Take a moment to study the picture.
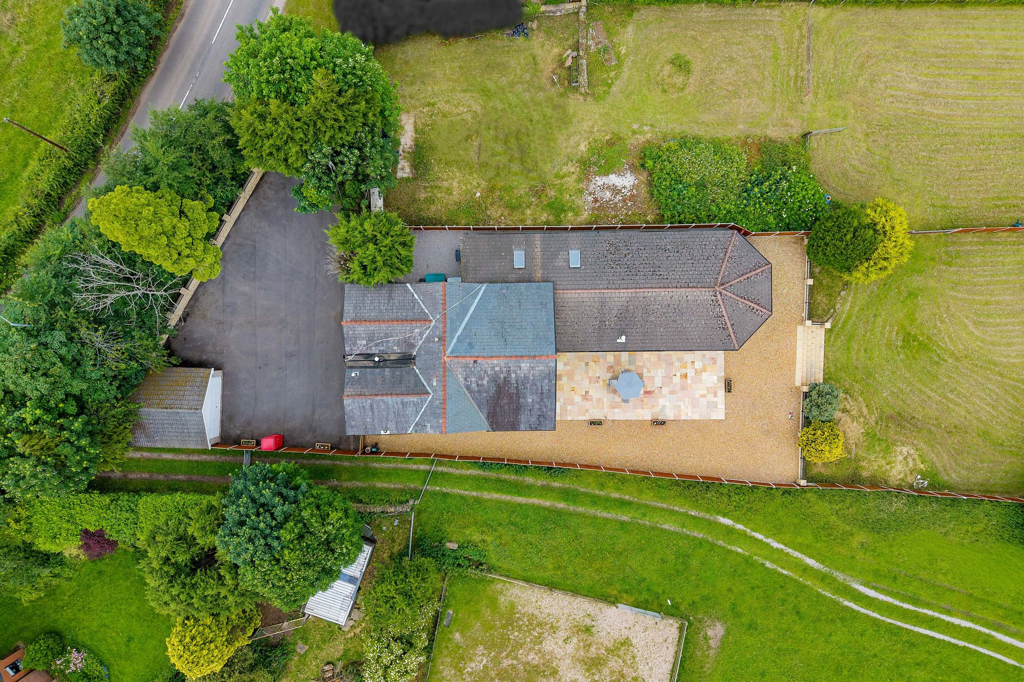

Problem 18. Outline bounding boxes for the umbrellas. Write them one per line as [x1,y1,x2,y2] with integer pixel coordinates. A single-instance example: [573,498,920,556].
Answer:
[615,372,645,398]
